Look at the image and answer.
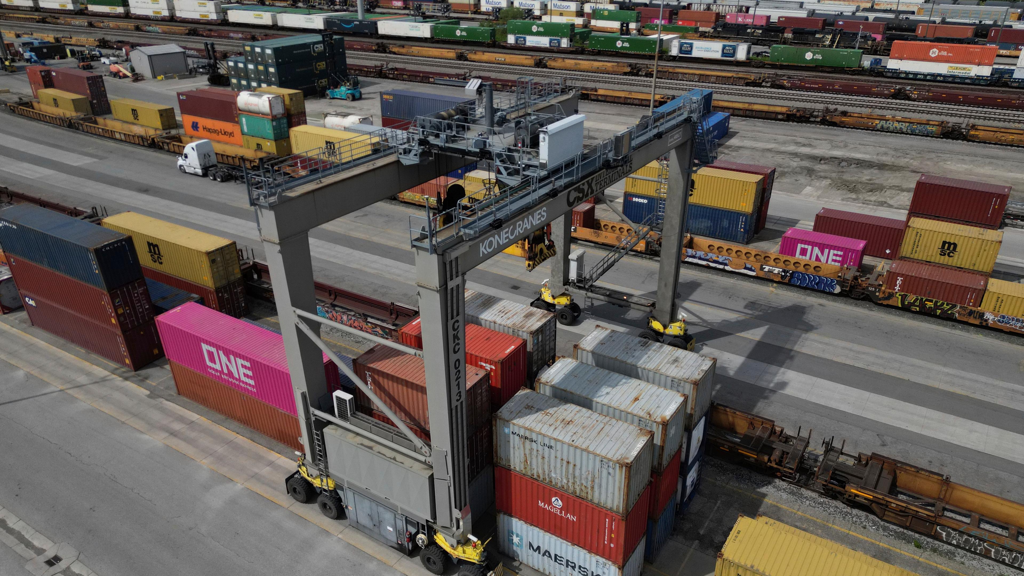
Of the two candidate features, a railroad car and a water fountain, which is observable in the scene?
railroad car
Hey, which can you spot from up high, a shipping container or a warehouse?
shipping container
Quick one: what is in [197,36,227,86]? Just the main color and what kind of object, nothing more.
black work vehicle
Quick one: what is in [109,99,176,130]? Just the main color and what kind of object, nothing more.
yellow shipping container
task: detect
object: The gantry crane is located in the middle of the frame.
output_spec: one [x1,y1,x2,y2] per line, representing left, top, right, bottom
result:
[221,69,728,576]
